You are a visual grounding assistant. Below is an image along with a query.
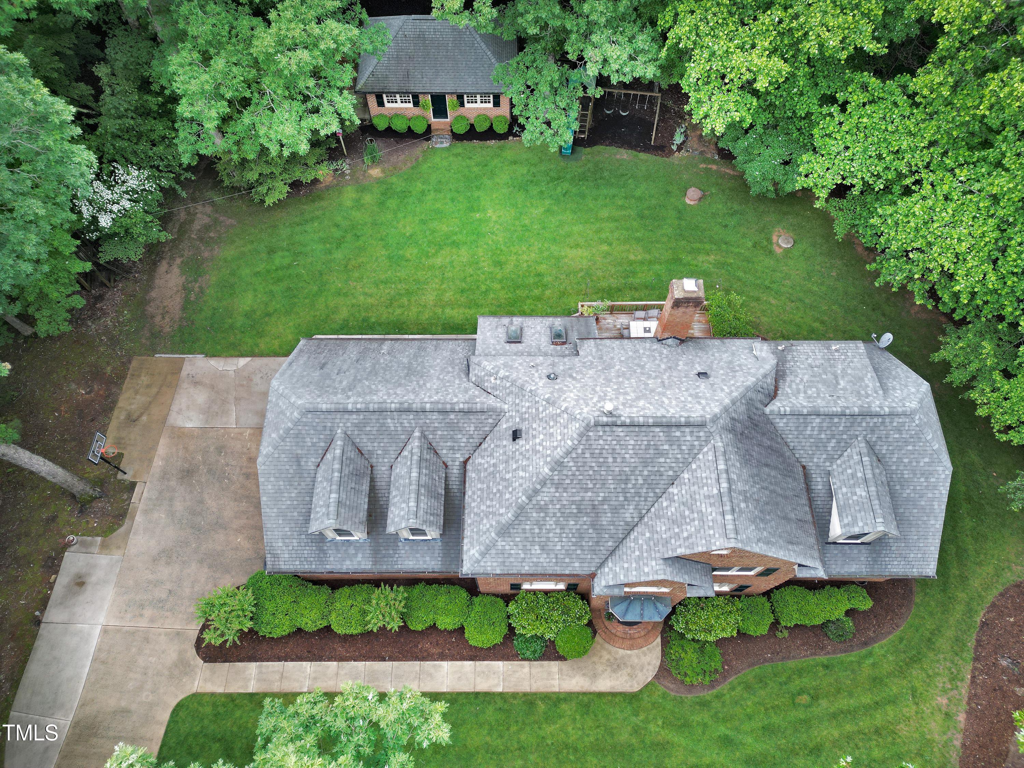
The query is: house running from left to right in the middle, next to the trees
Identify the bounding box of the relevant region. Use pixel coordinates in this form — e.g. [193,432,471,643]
[255,277,951,622]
